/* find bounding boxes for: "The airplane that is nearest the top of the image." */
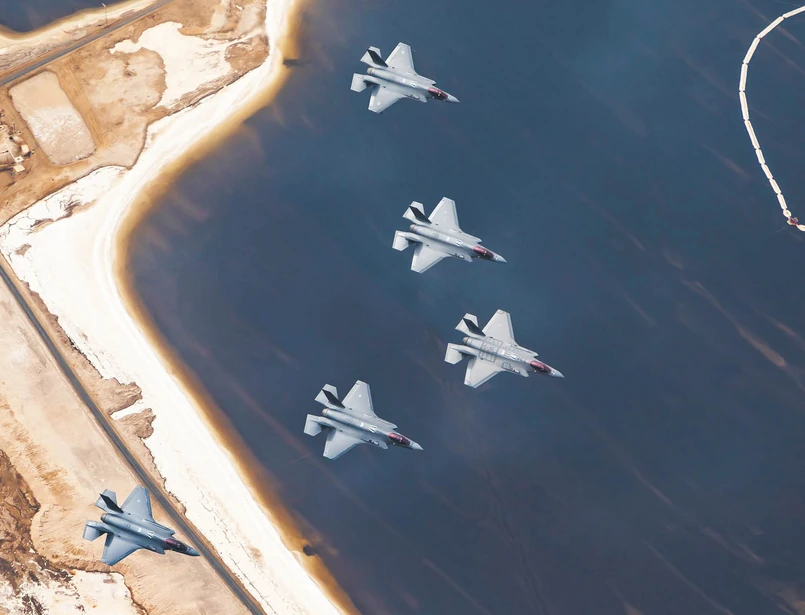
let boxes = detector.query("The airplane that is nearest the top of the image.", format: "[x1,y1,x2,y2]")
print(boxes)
[351,42,458,113]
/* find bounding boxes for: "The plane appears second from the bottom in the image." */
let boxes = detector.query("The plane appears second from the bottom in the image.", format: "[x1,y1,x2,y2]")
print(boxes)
[304,381,422,460]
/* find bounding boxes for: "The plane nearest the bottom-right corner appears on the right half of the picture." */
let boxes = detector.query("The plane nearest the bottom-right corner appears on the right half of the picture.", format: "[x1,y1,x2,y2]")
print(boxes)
[445,310,563,388]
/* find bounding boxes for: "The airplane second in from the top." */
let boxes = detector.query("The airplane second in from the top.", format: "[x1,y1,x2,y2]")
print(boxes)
[393,197,505,273]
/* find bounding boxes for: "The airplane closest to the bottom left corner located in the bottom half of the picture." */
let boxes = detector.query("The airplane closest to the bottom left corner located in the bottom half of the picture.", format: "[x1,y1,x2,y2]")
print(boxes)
[83,486,199,565]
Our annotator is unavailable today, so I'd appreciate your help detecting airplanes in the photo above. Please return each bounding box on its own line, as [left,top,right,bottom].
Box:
[351,42,458,113]
[83,486,199,565]
[445,310,563,388]
[304,381,422,460]
[393,197,505,273]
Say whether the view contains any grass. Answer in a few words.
No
